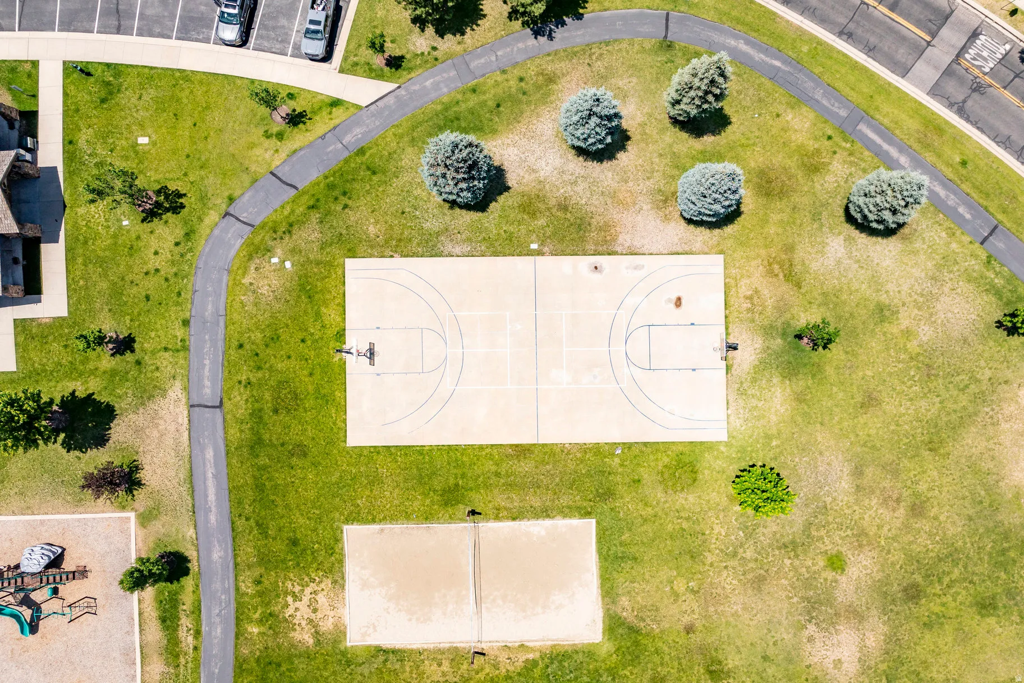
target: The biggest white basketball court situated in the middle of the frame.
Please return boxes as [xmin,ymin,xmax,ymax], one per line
[345,255,727,447]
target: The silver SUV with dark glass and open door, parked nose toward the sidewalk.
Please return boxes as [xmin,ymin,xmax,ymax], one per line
[215,0,259,49]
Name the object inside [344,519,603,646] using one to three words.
sports court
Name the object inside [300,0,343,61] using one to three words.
truck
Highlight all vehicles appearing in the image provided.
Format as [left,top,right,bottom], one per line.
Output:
[215,0,259,49]
[300,0,343,61]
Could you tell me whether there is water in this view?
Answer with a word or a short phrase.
No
